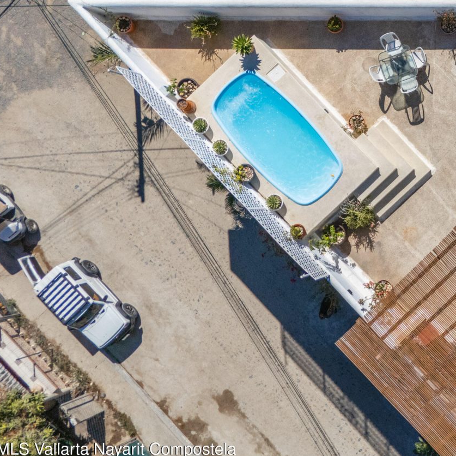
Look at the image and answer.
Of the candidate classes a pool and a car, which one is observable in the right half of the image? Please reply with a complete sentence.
It is a pool that can be seen in the right half of the image.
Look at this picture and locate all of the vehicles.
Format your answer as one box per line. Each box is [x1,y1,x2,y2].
[0,176,43,258]
[4,260,146,358]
